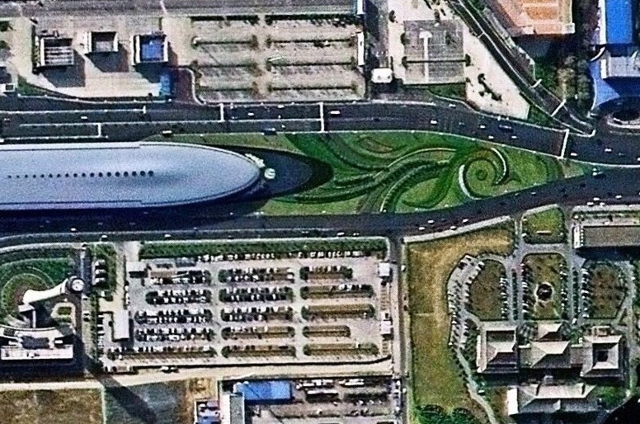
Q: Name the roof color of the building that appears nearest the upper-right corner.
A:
blue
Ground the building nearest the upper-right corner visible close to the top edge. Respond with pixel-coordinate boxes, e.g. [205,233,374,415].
[601,0,634,46]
